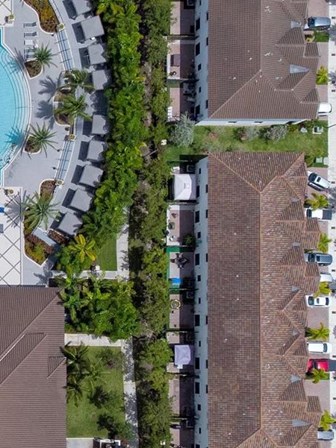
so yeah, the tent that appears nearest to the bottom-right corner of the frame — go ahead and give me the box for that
[169,347,192,365]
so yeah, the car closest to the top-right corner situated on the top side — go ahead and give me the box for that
[307,16,334,33]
